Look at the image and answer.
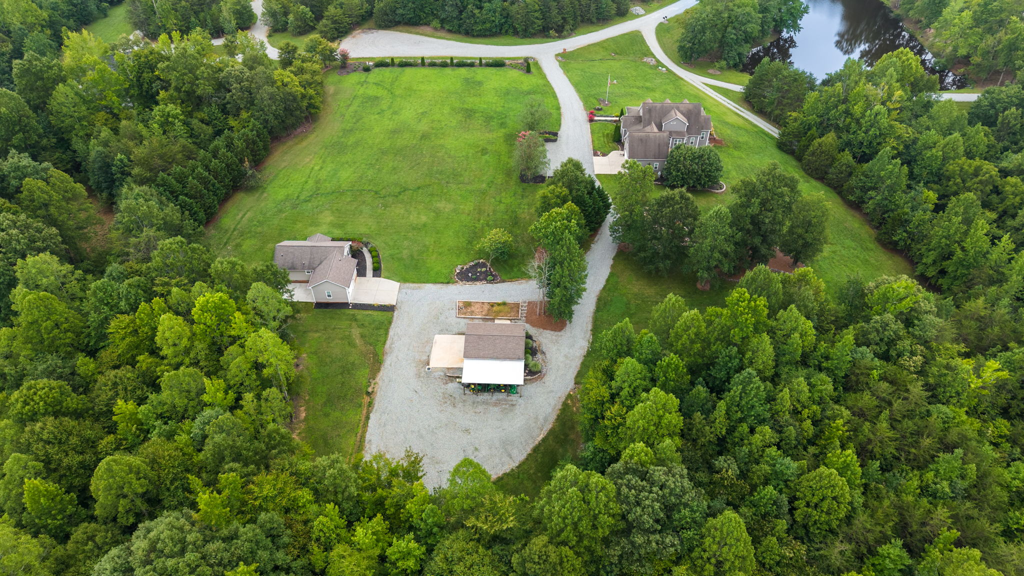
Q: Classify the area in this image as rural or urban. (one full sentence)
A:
It looks rural.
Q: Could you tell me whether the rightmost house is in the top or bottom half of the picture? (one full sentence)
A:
The rightmost house is in the top half of the image.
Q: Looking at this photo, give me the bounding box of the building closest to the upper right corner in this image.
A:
[619,95,723,173]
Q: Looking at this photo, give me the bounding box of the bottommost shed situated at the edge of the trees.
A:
[462,323,527,396]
